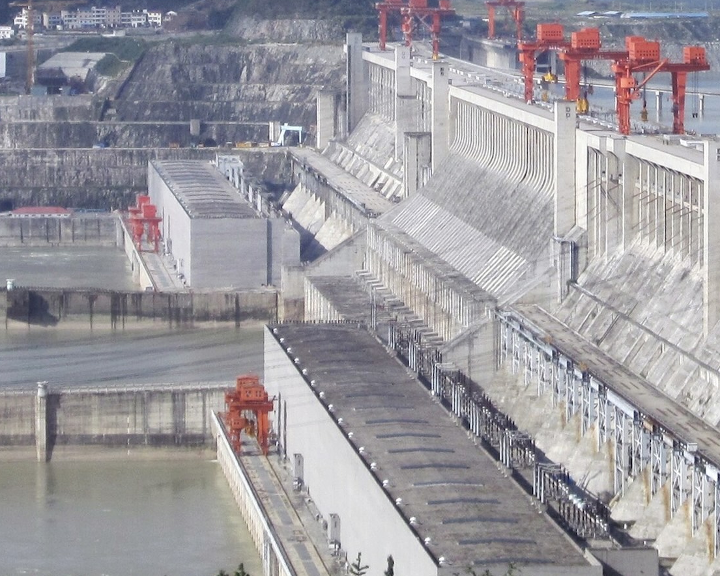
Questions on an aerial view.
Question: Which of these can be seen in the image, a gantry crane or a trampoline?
gantry crane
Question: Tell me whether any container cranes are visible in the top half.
Yes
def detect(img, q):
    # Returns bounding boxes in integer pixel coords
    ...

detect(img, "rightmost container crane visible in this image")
[615,33,703,133]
